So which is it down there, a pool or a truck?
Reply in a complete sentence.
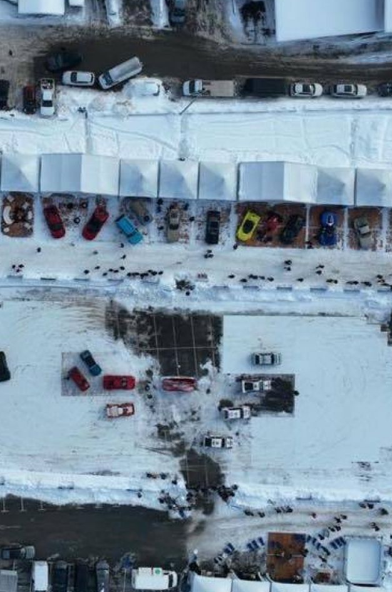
I can see a truck in this picture.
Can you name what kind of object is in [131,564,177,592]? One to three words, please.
vehicle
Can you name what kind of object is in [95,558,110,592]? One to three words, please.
car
